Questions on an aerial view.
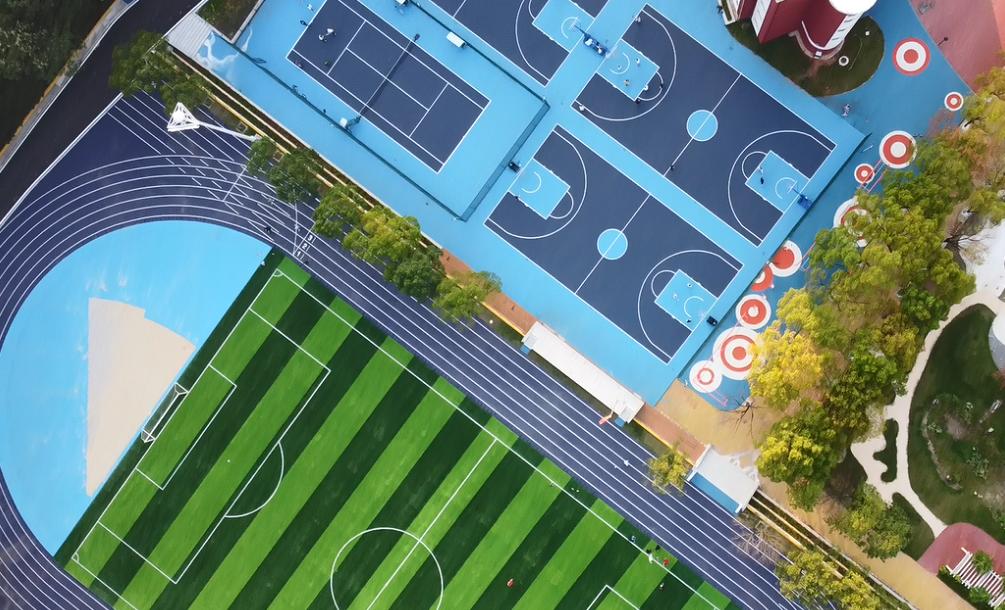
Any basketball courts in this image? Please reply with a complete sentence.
Yes, there's a basketball court down there.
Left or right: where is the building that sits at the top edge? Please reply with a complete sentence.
It is on the right.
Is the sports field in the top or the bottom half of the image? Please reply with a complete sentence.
You can find the sports field in the bottom half.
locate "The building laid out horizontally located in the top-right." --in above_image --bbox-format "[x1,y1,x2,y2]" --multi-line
[732,0,874,58]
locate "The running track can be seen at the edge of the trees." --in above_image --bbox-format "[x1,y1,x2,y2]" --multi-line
[0,79,862,610]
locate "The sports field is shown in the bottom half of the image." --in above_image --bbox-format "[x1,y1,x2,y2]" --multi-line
[54,248,743,610]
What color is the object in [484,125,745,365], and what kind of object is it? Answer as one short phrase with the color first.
blue basketball court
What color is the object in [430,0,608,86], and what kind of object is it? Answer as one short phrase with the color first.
blue basketball court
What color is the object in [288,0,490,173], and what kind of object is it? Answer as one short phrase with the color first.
blue tennis court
